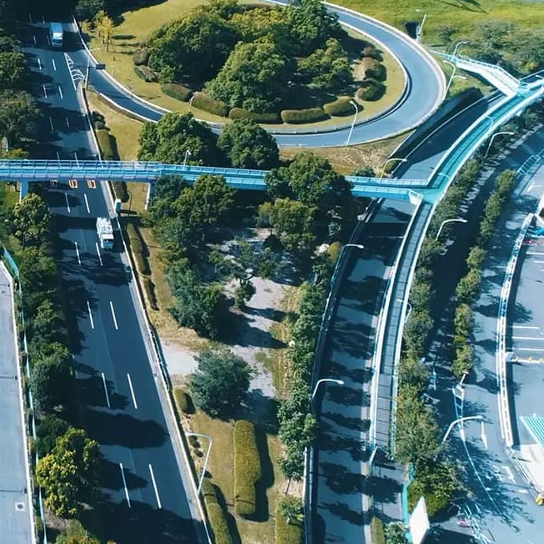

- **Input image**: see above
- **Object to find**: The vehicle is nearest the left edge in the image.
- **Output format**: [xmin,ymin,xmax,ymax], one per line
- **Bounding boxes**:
[49,21,63,46]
